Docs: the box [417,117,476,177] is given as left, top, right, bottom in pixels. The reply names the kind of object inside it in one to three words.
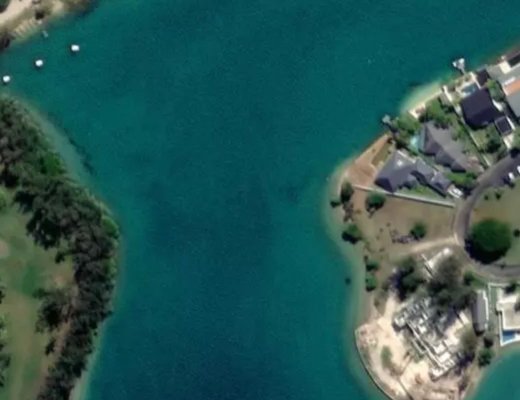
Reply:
house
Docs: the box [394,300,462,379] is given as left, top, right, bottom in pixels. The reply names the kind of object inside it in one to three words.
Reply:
building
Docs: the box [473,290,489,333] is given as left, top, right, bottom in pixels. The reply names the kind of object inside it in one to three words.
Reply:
shed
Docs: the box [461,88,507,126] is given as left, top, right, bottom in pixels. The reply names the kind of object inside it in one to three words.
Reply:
house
